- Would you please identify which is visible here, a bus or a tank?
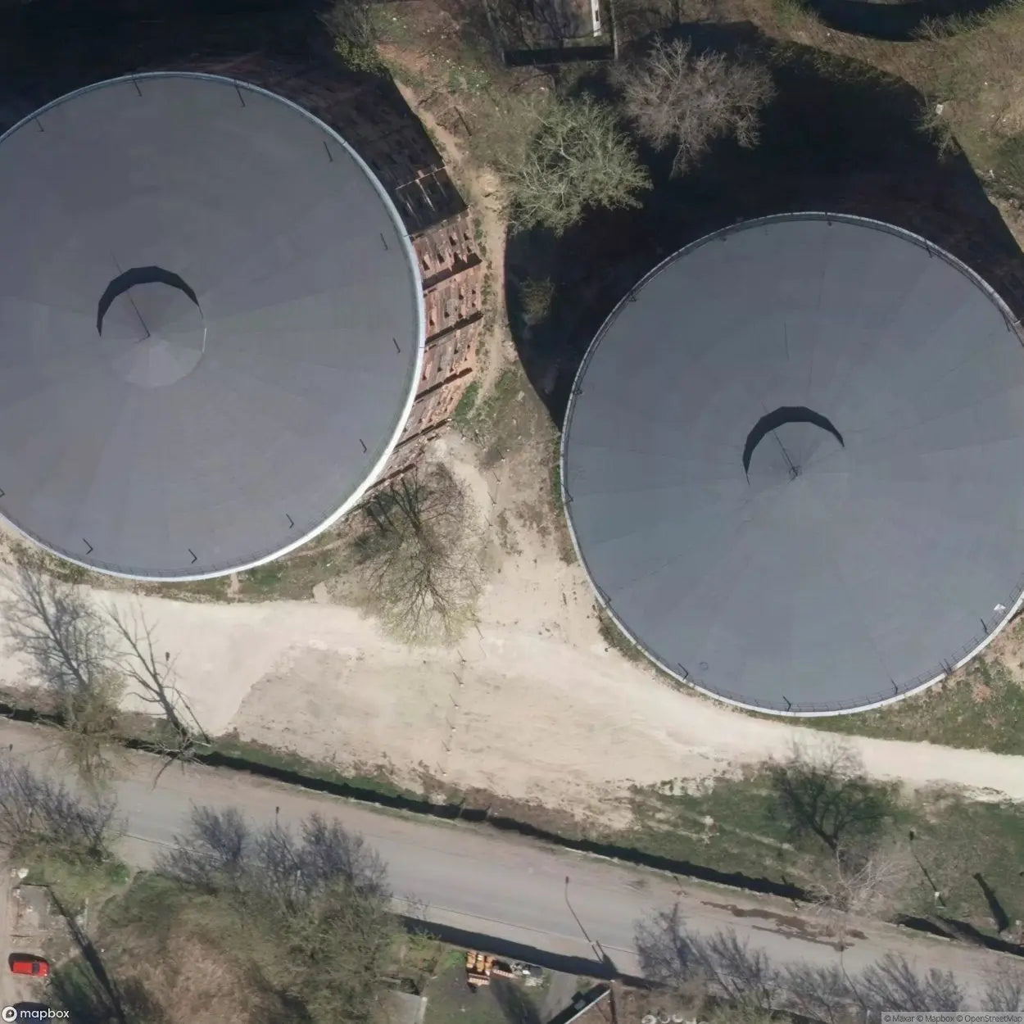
tank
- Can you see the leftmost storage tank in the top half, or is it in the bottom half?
top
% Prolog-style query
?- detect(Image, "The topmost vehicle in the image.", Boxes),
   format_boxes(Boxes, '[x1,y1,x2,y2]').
[12,958,51,977]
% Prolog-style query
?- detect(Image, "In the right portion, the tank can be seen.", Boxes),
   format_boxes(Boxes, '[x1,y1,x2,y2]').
[562,196,1024,714]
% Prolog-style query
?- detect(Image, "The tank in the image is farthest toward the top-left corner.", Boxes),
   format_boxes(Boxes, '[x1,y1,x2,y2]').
[0,58,484,583]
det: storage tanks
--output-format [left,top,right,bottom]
[0,58,484,583]
[562,196,1024,714]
